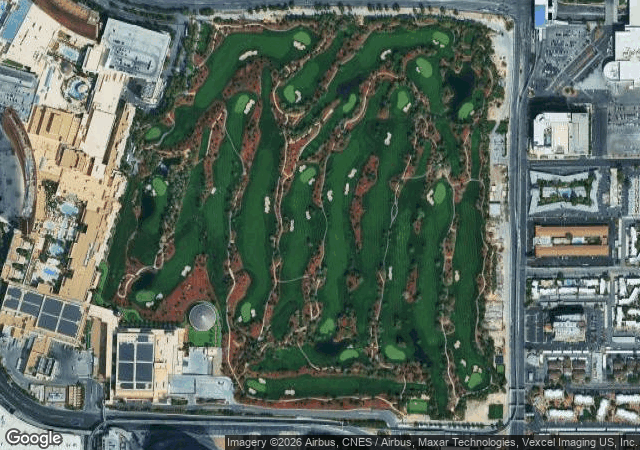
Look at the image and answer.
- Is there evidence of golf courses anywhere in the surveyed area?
Yes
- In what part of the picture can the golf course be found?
center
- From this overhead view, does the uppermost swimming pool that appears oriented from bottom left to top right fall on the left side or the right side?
left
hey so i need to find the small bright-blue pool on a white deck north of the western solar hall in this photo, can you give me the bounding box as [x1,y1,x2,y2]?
[34,258,60,286]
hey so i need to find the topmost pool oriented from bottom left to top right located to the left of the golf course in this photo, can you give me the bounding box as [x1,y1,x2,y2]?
[1,0,32,41]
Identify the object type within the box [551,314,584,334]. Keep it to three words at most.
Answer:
building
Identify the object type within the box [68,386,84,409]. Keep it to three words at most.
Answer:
building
